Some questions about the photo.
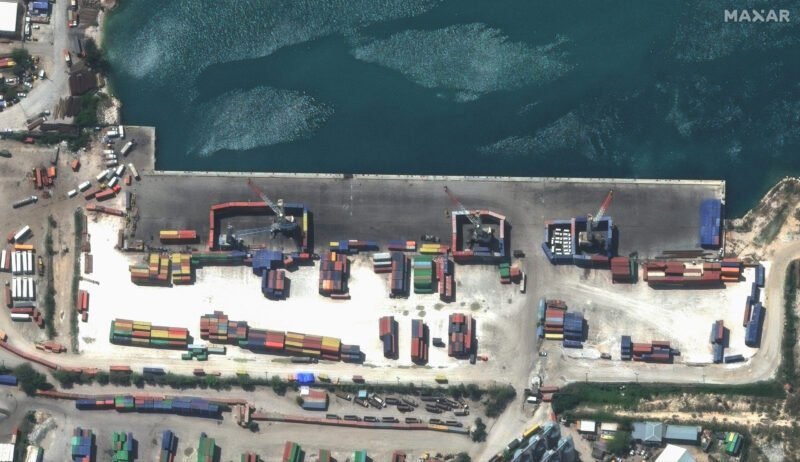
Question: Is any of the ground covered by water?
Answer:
Yes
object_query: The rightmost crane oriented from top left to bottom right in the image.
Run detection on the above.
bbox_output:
[443,185,495,242]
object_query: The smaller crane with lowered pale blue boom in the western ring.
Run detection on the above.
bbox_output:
[218,224,274,252]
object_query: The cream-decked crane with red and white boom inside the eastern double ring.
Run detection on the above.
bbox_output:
[577,188,613,245]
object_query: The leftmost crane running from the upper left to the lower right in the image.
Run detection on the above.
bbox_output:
[247,178,295,232]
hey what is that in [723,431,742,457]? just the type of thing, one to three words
house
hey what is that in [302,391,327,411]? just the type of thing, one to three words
building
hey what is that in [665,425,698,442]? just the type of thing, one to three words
building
